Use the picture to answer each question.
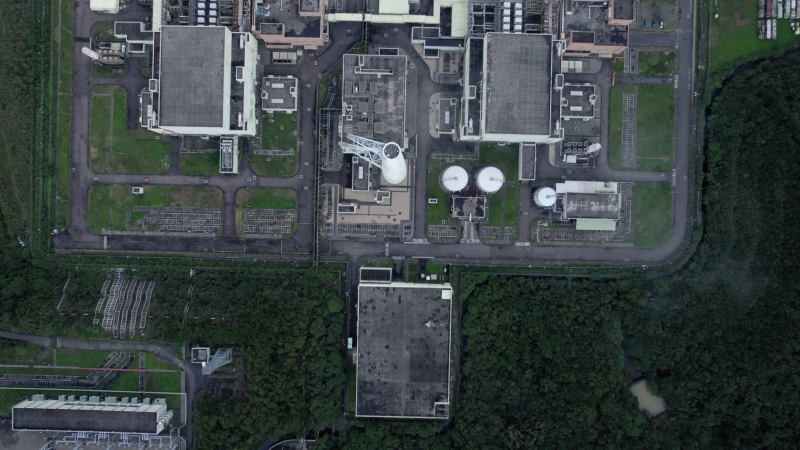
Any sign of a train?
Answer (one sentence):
No, I can't see a single train in this photo.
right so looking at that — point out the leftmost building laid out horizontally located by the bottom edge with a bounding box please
[12,400,167,433]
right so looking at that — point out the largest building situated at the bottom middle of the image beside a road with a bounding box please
[353,283,452,418]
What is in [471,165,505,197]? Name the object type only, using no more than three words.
storage tank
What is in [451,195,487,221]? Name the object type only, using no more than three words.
building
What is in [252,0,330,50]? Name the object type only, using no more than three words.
building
